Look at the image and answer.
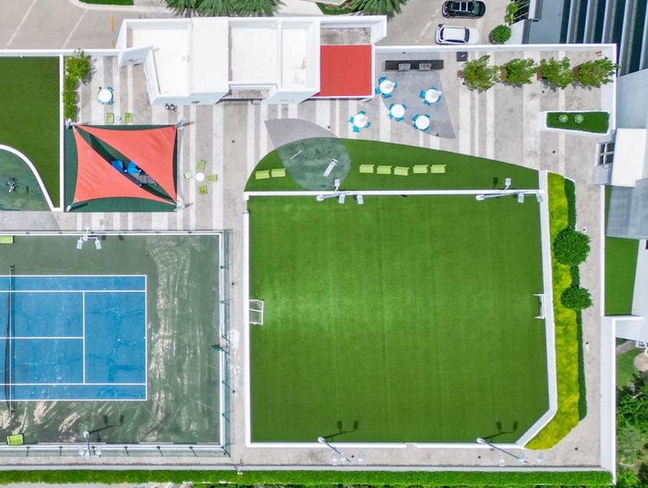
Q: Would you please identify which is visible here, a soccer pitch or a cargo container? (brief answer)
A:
soccer pitch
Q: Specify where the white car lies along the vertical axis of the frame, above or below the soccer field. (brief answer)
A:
above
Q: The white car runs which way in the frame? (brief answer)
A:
from side to side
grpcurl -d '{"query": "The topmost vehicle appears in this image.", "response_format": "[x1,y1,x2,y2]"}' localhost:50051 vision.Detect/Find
[438,0,484,20]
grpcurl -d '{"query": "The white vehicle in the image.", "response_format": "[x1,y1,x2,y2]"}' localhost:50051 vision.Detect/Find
[431,23,478,46]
